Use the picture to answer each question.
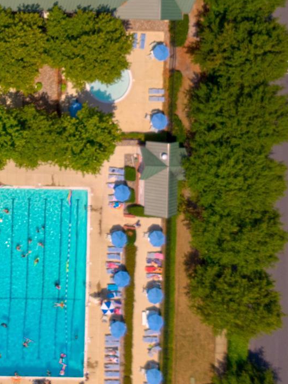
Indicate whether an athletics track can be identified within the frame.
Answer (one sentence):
No, there appears to be no athletics track in this shot.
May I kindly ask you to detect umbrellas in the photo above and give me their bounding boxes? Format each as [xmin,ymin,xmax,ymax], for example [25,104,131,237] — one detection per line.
[150,111,168,129]
[109,320,127,336]
[113,269,130,286]
[145,313,162,330]
[147,231,165,248]
[110,230,127,247]
[145,367,162,384]
[152,44,168,59]
[102,301,114,314]
[145,288,162,304]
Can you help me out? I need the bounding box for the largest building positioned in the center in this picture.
[119,141,194,219]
